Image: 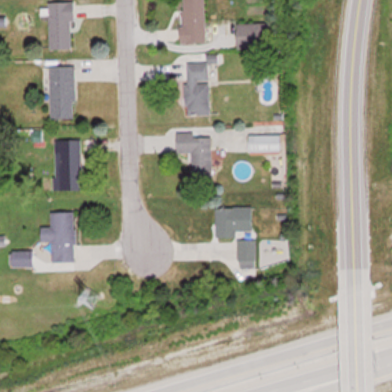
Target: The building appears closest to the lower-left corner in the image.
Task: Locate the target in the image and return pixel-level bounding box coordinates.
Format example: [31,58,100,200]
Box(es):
[8,250,32,268]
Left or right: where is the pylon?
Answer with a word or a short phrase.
left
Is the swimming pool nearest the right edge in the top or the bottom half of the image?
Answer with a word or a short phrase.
top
